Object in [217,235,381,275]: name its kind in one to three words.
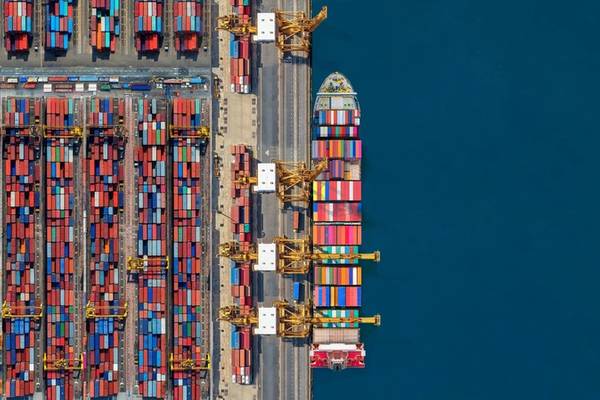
container crane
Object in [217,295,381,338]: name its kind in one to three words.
container crane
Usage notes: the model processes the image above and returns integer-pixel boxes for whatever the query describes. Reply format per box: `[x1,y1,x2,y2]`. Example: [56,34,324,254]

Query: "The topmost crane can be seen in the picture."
[217,2,328,57]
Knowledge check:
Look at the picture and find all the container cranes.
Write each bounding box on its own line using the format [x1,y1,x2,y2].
[128,256,173,269]
[217,295,381,338]
[2,126,47,139]
[171,353,213,370]
[44,126,89,140]
[171,126,213,140]
[87,302,131,317]
[217,154,329,199]
[217,235,381,275]
[87,126,131,139]
[44,353,89,370]
[217,2,328,57]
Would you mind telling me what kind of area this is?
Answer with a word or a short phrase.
port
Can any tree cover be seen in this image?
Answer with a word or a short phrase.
No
